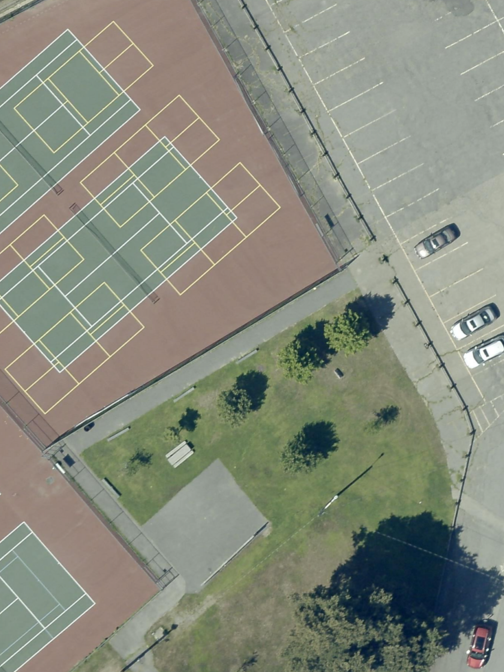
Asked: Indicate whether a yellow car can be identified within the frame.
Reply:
No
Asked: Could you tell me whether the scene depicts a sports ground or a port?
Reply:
sports ground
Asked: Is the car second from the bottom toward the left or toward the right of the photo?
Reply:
right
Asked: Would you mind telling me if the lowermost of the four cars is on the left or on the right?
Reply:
right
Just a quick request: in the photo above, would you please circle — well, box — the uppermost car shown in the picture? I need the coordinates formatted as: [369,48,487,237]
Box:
[414,224,460,259]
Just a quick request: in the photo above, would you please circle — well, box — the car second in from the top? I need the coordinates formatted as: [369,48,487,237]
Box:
[452,304,497,338]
